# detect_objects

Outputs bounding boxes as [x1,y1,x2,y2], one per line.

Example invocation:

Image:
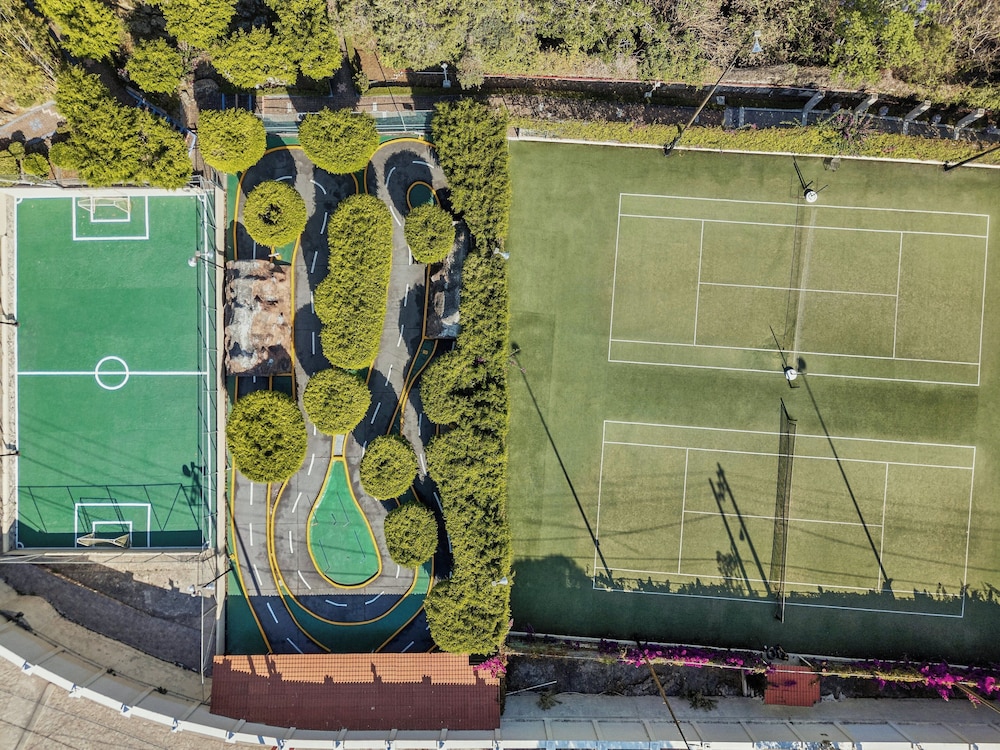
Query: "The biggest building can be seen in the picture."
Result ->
[201,644,500,737]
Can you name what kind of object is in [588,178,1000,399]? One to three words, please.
tennis court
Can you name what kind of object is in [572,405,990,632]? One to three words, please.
tennis court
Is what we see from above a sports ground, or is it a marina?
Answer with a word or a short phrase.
sports ground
